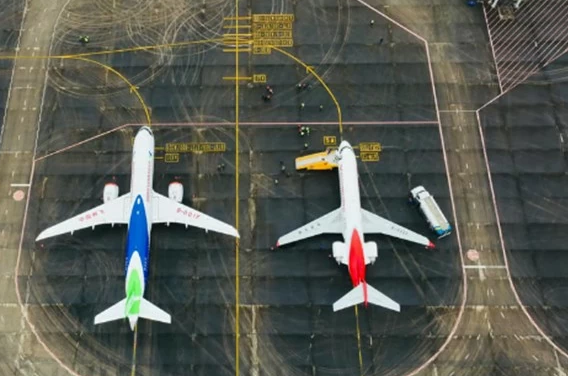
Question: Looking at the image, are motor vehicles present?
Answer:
Yes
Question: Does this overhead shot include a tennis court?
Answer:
No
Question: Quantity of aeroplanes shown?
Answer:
2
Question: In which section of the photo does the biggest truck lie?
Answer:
right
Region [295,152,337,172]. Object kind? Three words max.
vehicle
